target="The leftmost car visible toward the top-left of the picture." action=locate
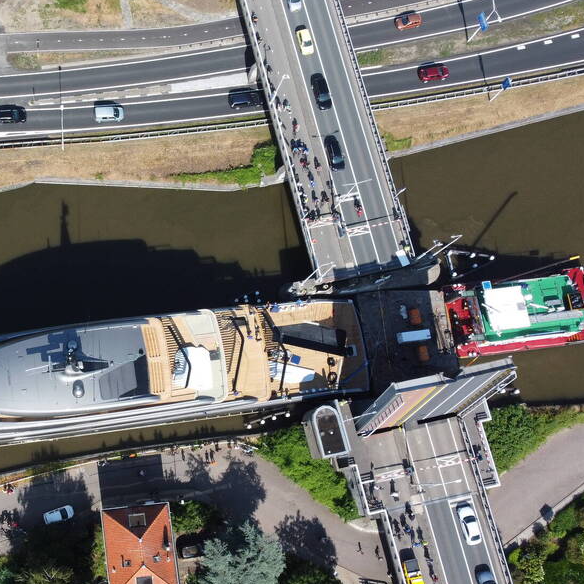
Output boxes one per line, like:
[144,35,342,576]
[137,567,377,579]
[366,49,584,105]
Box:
[0,104,26,122]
